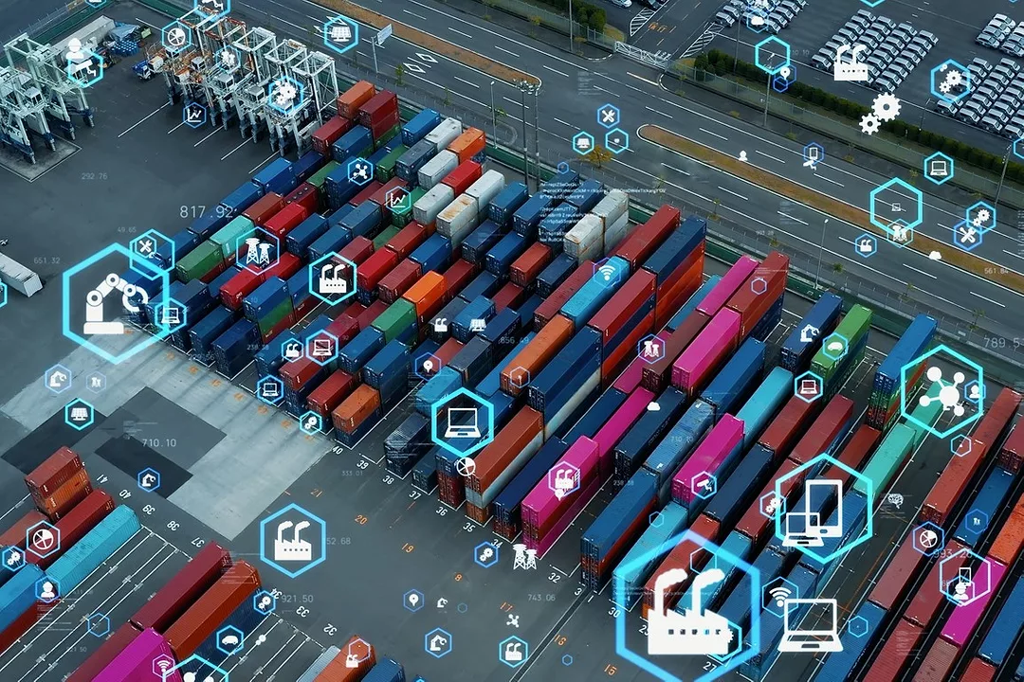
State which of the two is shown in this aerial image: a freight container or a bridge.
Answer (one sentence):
Of the two, only a freight container appears.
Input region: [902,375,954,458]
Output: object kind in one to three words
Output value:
shipping container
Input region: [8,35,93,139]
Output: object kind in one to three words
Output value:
work vehicle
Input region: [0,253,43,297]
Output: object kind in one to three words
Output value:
shipping container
